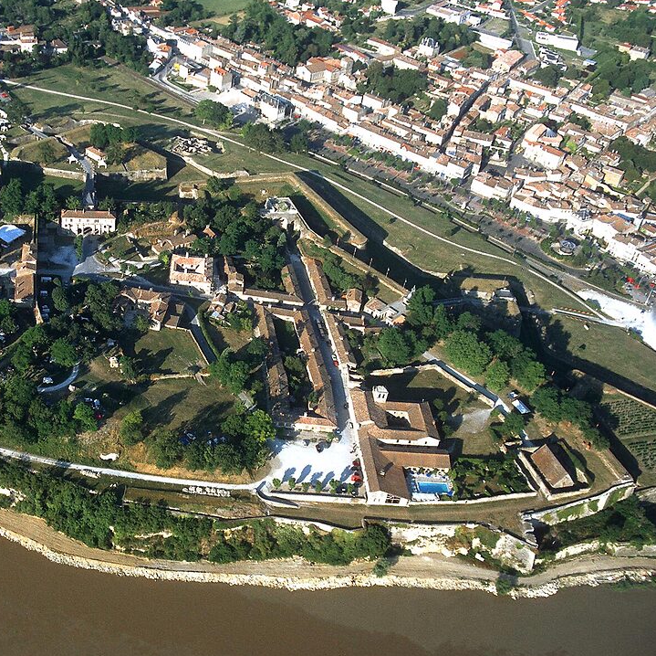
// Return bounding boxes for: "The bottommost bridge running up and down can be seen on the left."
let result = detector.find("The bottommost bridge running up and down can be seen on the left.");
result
[81,164,97,213]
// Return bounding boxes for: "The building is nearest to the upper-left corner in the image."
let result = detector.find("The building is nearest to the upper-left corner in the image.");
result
[3,30,34,56]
